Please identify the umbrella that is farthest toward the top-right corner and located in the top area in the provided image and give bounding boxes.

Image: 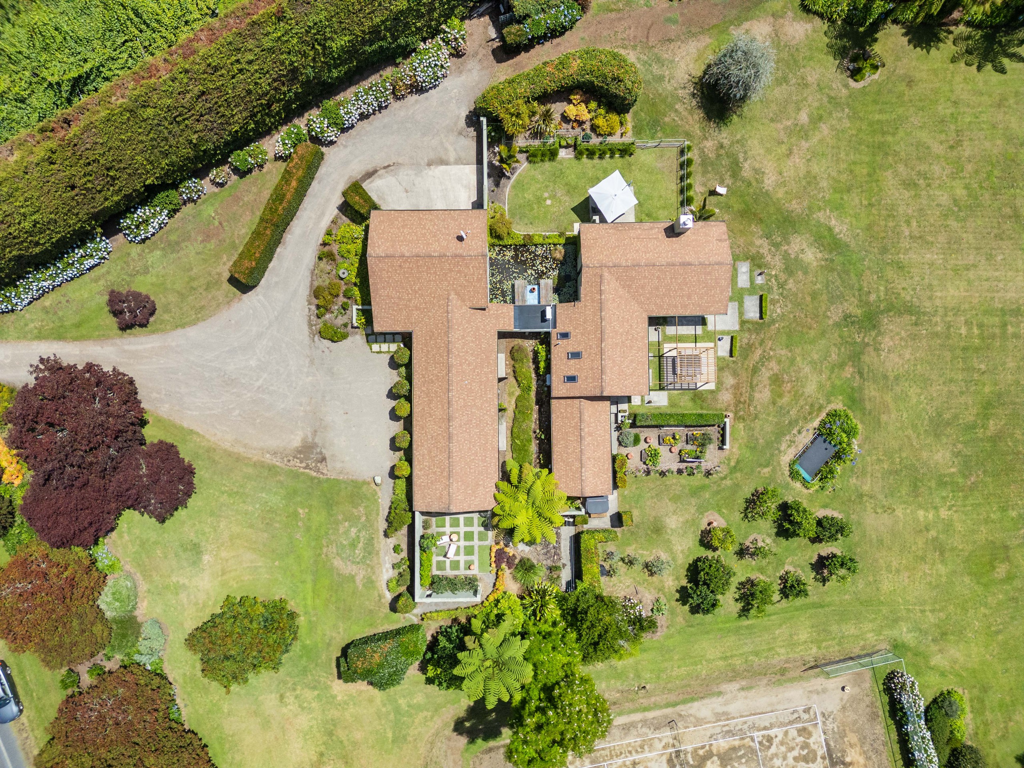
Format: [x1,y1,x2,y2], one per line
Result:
[588,170,638,219]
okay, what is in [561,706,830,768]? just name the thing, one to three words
tennis court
